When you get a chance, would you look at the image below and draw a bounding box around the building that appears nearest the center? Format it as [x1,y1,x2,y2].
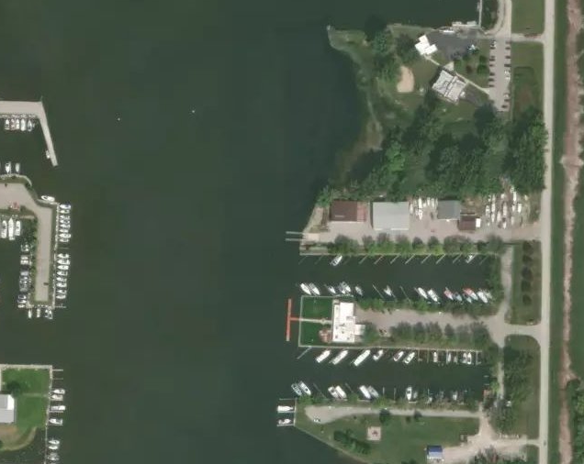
[330,201,366,221]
